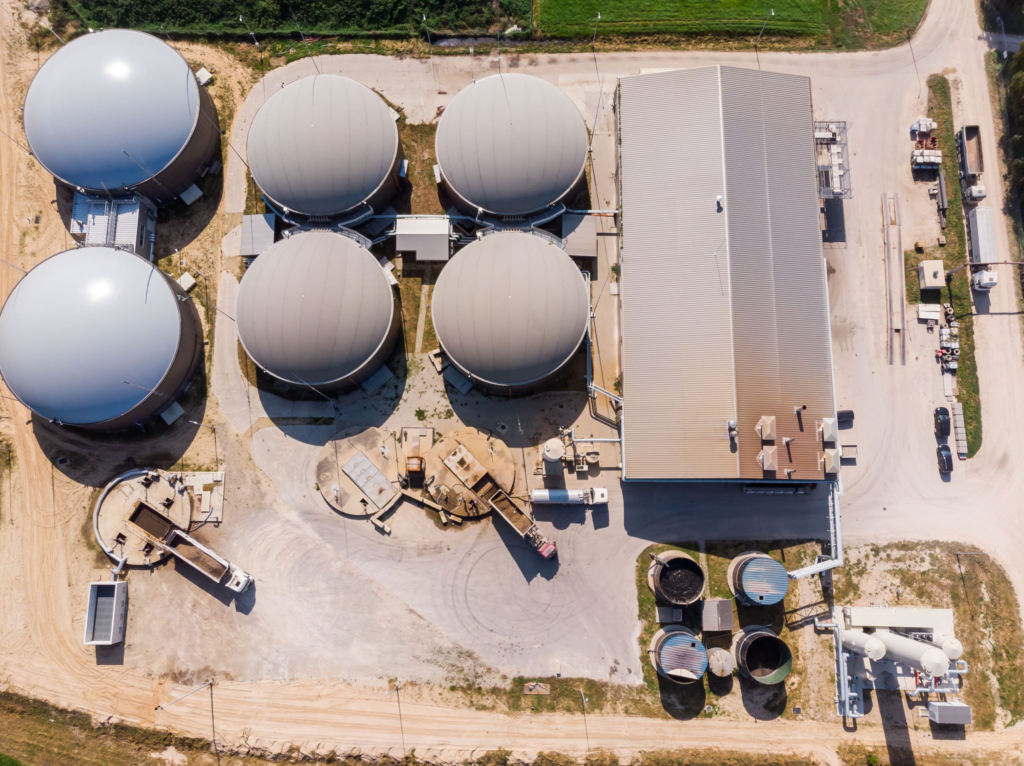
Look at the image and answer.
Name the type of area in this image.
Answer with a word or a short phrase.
industrial area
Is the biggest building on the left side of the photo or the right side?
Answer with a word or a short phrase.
right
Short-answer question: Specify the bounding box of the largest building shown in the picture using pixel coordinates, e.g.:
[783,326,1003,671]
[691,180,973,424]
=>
[613,63,837,481]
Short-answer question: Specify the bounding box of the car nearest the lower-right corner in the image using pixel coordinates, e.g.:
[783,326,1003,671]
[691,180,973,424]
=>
[936,445,955,471]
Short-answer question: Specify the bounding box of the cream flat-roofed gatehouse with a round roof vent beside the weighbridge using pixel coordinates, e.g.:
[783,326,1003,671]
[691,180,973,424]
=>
[916,260,945,290]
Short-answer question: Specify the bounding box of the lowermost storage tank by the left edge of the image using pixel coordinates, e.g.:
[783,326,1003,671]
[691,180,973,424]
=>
[0,245,205,433]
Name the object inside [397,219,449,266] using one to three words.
building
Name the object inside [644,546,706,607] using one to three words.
storage tank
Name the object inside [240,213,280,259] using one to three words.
building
